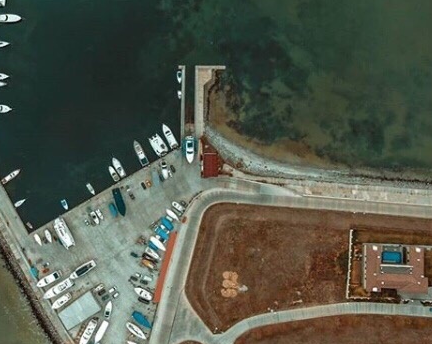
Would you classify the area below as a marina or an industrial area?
marina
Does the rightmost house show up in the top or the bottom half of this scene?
bottom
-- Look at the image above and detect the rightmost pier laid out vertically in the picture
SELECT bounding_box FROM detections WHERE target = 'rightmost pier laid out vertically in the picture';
[194,65,226,142]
